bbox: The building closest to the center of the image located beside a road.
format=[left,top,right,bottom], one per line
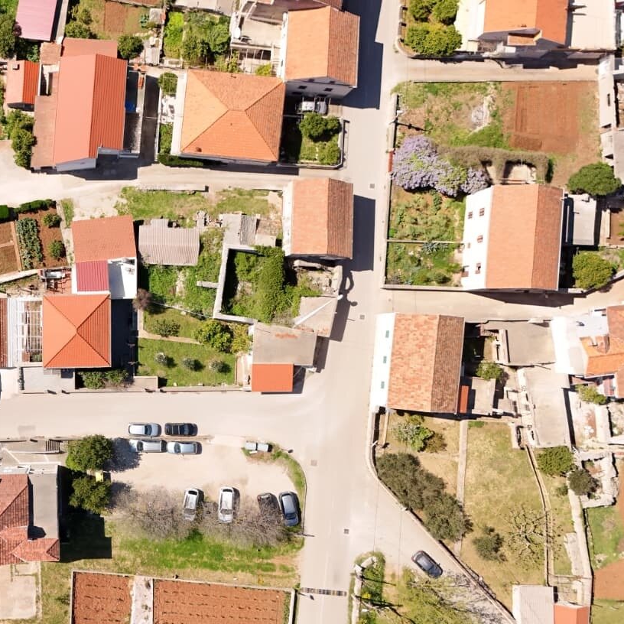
[289,296,337,337]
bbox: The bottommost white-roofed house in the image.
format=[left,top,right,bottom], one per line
[504,579,555,624]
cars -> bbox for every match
[410,549,443,580]
[166,440,200,455]
[163,422,196,439]
[258,489,279,524]
[129,439,165,454]
[218,487,234,524]
[277,490,299,526]
[299,98,330,115]
[182,488,201,521]
[128,422,160,439]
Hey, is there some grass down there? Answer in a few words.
Yes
